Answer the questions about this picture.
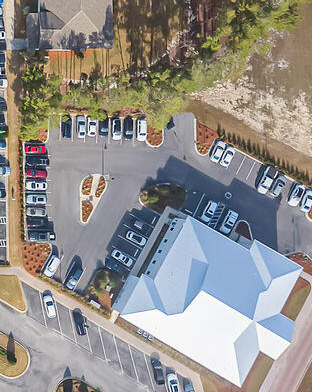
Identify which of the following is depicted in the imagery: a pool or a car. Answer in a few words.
car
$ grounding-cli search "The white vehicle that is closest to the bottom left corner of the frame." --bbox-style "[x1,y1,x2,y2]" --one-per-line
[43,296,56,318]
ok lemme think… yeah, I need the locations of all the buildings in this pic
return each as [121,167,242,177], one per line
[105,216,303,387]
[23,0,111,51]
